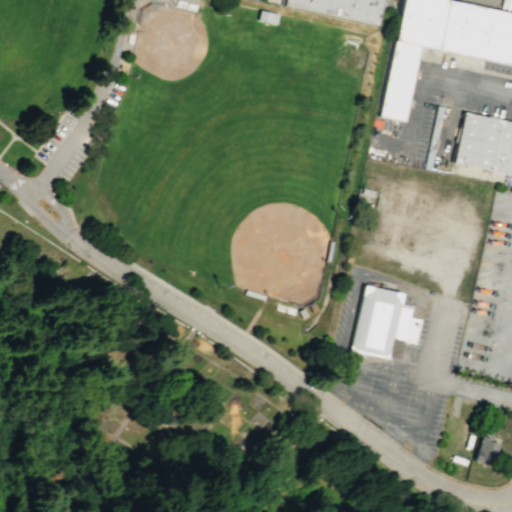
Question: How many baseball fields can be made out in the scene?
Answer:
2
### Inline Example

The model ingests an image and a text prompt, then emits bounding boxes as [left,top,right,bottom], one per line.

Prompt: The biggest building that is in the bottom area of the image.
[350,286,406,360]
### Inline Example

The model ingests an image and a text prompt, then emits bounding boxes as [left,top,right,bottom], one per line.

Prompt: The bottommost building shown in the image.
[476,434,504,466]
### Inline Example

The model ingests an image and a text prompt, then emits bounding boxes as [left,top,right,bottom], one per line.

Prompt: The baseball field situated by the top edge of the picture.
[110,6,346,178]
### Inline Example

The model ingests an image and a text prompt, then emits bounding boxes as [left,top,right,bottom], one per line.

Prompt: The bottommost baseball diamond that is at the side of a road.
[130,106,346,306]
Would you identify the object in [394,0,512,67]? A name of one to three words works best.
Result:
building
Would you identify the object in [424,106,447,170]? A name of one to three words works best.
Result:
shed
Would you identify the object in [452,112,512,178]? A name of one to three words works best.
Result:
building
